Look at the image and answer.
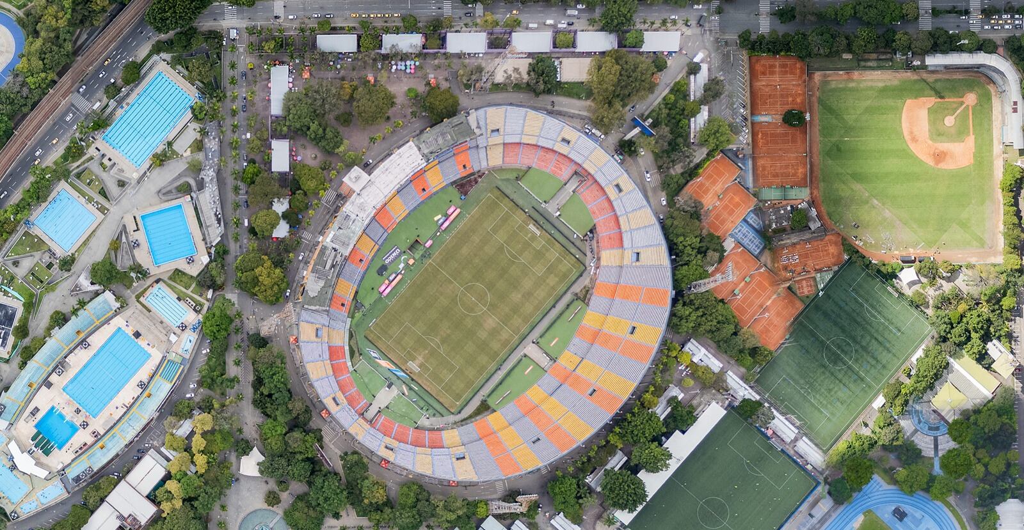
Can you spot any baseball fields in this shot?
Yes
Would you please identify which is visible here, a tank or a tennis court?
tennis court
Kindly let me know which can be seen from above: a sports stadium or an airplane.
sports stadium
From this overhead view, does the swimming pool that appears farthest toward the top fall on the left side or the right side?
left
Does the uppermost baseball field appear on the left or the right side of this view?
right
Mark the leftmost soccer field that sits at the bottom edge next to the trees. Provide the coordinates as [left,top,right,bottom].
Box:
[619,404,821,530]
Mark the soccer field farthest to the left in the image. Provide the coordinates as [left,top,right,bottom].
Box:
[365,188,584,411]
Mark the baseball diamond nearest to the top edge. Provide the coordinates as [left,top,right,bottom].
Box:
[810,70,1011,263]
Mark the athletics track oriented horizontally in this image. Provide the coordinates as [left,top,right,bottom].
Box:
[816,475,956,530]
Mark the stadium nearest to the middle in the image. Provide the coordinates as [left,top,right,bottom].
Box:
[295,104,674,483]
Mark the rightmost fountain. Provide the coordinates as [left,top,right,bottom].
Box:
[238,508,289,530]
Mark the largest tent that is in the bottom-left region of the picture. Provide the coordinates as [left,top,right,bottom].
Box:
[239,446,262,476]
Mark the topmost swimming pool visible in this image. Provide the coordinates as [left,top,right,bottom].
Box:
[94,60,200,174]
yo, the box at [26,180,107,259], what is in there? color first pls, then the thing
blue swimming pool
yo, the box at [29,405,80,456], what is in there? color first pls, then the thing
blue swimming pool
